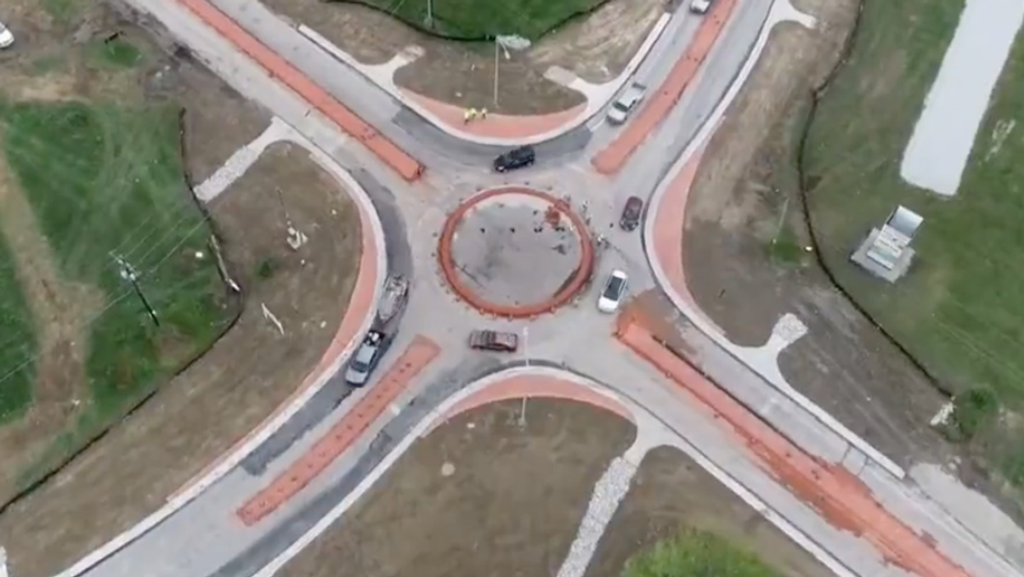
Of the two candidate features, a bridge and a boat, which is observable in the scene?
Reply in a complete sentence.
There is a boat in the scene.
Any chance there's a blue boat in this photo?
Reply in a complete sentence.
No, there isn't any blue boat down there.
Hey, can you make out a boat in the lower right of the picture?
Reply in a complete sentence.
No, I can find no boat in the lower right of the picture.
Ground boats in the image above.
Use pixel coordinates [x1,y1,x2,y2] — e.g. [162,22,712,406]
[374,273,408,324]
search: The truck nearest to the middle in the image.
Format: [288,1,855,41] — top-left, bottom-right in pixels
[467,331,521,355]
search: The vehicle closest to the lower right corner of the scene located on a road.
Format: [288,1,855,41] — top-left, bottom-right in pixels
[600,269,627,311]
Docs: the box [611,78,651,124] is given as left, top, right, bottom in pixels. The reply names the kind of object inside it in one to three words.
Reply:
truck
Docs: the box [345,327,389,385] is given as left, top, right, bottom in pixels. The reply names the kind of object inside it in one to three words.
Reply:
truck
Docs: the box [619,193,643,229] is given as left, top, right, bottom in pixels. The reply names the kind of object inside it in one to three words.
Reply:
car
